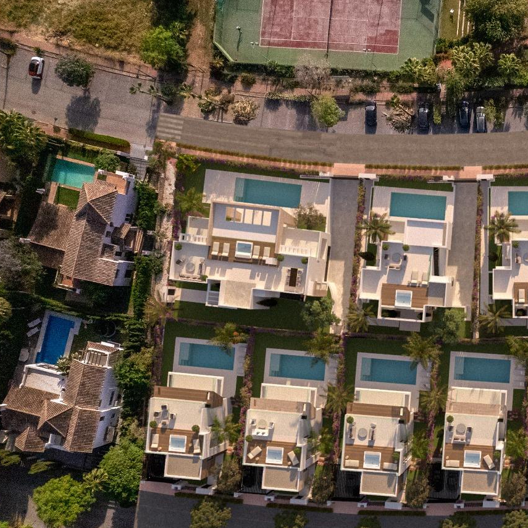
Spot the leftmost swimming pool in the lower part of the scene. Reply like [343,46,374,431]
[30,310,82,368]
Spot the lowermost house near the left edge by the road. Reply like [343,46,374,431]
[0,342,126,454]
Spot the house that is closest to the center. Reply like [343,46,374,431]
[169,201,343,308]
